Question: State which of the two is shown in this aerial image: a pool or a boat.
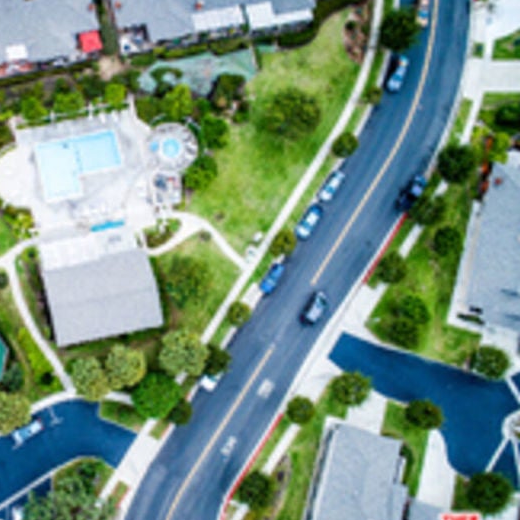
pool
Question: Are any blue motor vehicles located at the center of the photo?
Yes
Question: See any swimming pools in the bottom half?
No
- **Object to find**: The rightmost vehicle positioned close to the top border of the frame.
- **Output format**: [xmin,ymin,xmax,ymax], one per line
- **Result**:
[415,0,431,24]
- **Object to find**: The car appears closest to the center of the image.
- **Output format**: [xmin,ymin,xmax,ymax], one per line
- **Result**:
[260,262,285,294]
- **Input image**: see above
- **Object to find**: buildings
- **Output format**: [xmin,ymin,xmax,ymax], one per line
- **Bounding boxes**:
[311,425,408,520]
[39,226,164,346]
[107,0,317,41]
[467,150,520,334]
[0,0,103,64]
